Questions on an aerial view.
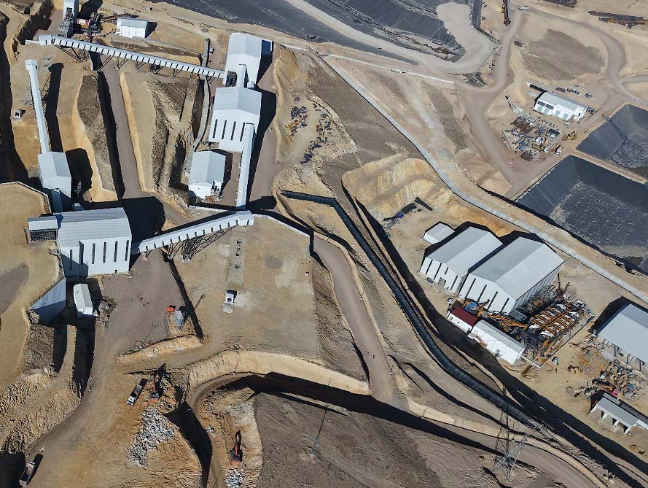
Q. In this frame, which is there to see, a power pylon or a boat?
power pylon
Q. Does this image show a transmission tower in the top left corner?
No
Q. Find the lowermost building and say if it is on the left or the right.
right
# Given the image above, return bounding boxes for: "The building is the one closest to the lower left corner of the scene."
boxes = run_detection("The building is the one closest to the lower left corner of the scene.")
[72,285,93,318]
